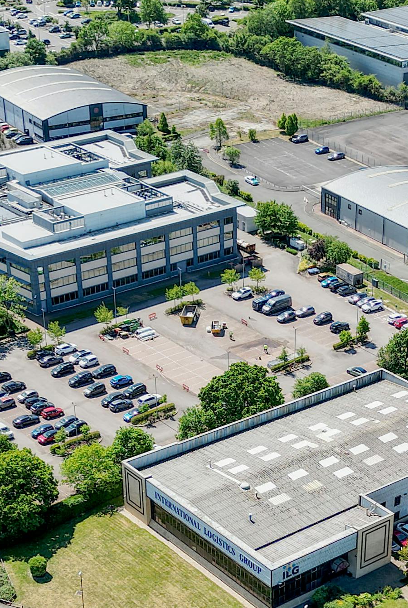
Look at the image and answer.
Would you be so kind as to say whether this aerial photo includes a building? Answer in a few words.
Yes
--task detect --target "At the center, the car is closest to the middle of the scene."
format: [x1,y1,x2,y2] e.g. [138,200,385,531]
[230,285,254,301]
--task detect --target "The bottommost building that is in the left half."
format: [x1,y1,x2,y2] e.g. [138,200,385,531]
[0,128,248,317]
